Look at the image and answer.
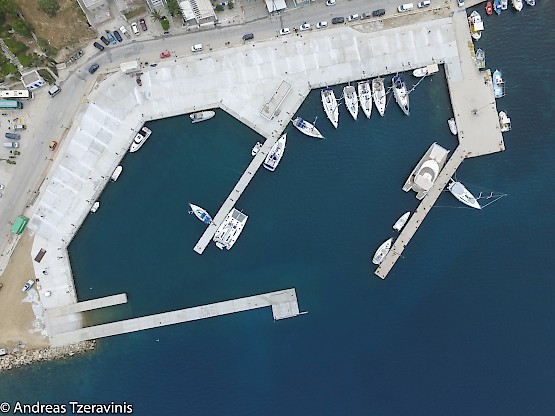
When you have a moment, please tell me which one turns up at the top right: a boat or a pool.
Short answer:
boat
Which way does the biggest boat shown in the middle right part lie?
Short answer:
diagonally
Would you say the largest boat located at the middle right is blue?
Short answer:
No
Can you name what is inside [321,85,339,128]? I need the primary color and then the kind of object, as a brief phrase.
white boat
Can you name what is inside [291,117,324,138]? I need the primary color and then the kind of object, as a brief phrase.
white boat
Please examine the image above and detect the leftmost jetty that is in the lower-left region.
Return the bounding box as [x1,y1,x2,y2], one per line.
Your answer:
[45,292,129,319]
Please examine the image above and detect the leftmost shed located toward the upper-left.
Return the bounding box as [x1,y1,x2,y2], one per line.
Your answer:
[21,70,46,90]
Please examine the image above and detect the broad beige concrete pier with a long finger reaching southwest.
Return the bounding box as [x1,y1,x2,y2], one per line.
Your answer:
[373,10,505,279]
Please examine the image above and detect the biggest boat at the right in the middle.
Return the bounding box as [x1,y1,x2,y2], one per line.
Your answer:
[401,141,451,200]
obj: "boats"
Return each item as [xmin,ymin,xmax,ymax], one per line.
[401,141,451,200]
[413,64,441,76]
[391,72,427,115]
[522,0,534,6]
[491,69,504,99]
[130,127,153,152]
[371,74,393,115]
[476,49,485,69]
[498,111,513,133]
[215,209,247,249]
[189,204,215,224]
[469,10,485,41]
[447,117,457,133]
[291,117,324,138]
[112,166,122,181]
[189,111,214,122]
[264,133,287,170]
[483,2,491,17]
[448,180,507,209]
[510,0,522,11]
[357,77,378,119]
[392,212,410,231]
[321,85,339,128]
[253,141,261,154]
[492,0,501,16]
[372,238,397,264]
[344,82,362,120]
[501,0,507,11]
